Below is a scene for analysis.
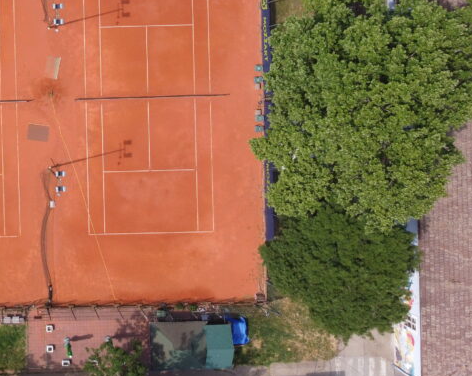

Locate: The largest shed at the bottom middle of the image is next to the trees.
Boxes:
[150,313,234,369]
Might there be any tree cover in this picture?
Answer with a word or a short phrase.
Yes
